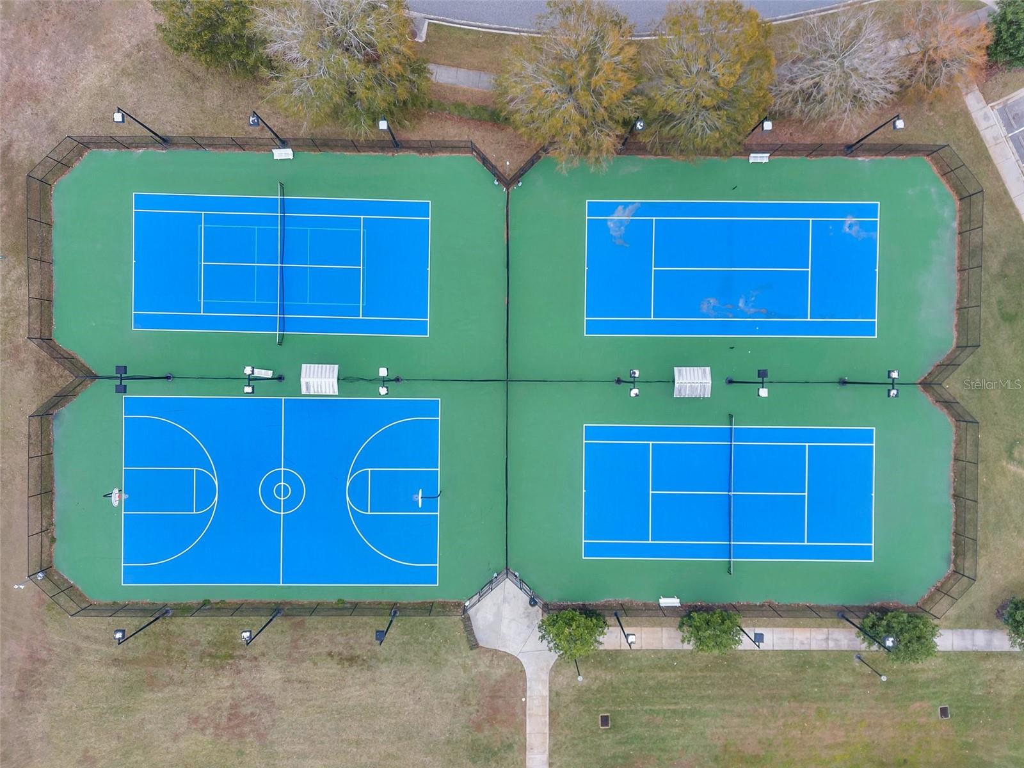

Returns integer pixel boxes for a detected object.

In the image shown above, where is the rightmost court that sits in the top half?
[507,156,959,383]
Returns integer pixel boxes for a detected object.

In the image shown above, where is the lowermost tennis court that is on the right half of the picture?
[508,381,957,606]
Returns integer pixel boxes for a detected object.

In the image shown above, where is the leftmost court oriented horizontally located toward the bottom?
[51,378,507,603]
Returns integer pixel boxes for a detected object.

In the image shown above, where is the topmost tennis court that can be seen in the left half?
[51,150,507,380]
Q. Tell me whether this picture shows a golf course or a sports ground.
sports ground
